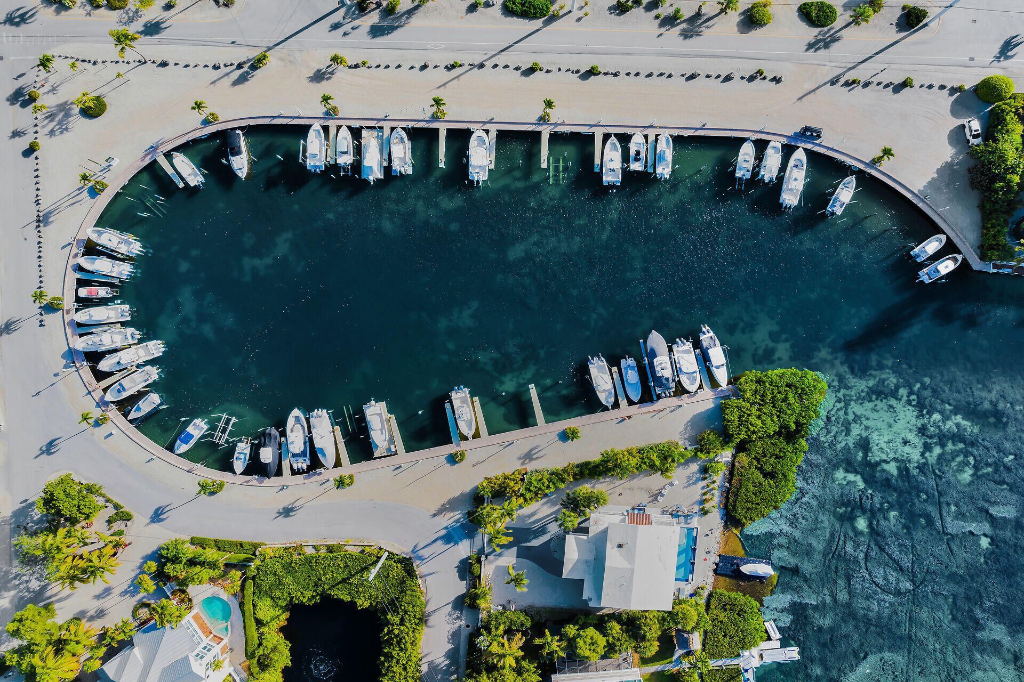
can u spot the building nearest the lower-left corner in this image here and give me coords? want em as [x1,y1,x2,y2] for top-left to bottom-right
[94,601,234,682]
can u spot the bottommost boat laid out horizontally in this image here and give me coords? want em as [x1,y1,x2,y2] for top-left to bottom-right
[763,644,805,661]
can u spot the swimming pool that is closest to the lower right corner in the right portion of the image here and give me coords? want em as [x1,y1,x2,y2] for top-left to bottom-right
[674,526,698,585]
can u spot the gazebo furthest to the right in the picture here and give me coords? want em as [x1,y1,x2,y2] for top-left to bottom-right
[674,628,700,649]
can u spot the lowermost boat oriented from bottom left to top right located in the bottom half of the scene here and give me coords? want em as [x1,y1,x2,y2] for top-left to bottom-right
[173,414,211,454]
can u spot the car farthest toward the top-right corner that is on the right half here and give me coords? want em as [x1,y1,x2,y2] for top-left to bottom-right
[962,116,982,147]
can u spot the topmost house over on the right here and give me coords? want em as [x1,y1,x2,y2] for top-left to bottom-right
[561,507,680,610]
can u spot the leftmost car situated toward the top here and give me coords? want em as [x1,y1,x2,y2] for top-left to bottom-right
[797,123,824,139]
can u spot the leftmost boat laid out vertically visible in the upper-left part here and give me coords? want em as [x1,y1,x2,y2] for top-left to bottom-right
[222,129,249,179]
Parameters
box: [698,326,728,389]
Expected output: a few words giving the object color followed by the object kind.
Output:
white boat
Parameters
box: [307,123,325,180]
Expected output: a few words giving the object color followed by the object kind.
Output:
white boat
